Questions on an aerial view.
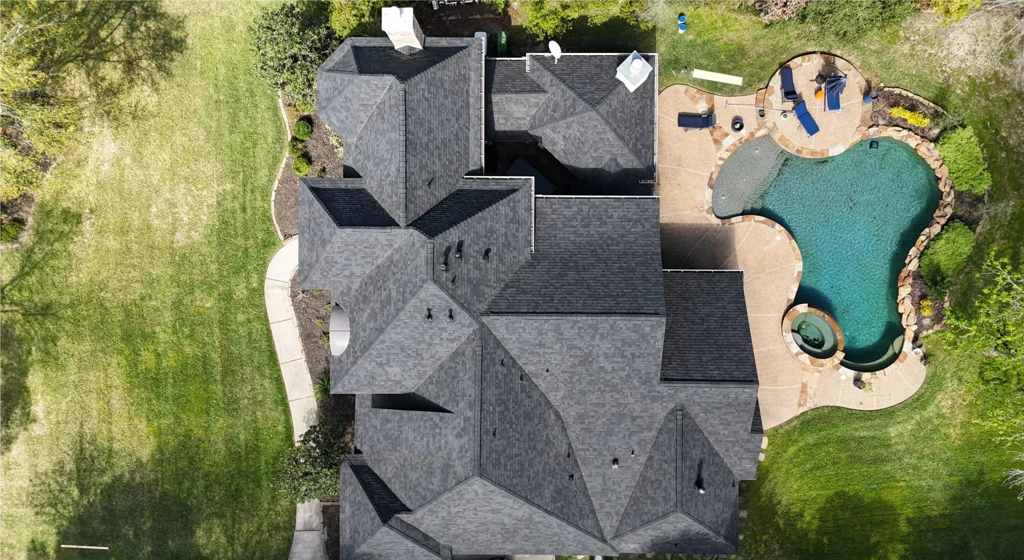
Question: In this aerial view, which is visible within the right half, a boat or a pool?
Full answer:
It is a pool that can be seen within the right half.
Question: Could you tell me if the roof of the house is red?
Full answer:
No, from above the roof of the house looks gray.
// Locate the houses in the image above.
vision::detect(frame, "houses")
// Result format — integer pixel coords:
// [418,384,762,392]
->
[296,4,763,560]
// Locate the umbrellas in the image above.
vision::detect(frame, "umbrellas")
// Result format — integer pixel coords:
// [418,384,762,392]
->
[810,64,848,96]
